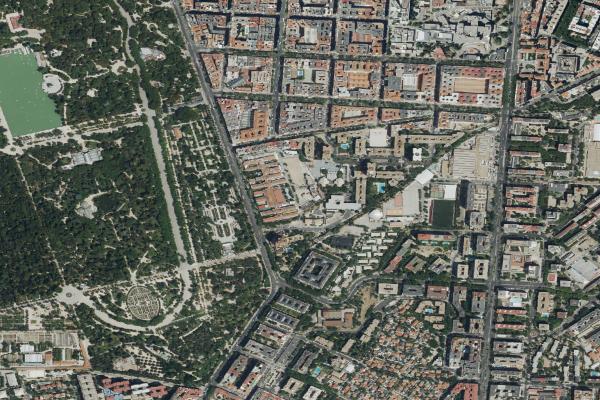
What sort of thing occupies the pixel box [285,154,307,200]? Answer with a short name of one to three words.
sports field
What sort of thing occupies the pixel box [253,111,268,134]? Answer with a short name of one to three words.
building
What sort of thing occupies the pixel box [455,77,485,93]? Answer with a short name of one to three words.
building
